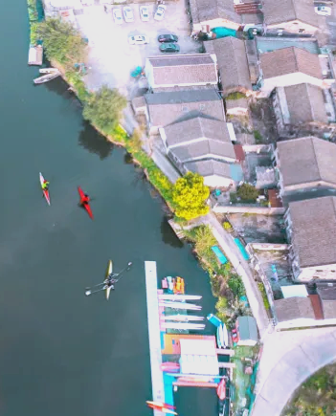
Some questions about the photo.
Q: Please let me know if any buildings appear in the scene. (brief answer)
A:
Yes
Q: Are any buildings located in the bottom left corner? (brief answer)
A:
No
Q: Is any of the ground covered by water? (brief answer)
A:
Yes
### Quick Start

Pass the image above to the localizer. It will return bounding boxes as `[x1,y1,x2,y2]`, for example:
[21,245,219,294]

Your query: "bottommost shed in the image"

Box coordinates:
[234,315,260,346]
